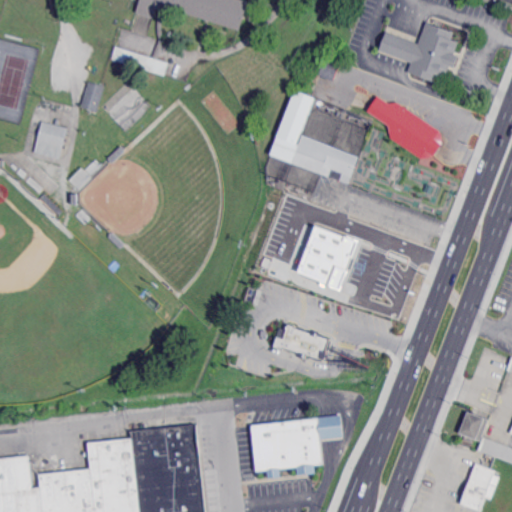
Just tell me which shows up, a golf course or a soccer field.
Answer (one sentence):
There is a golf course in the scene.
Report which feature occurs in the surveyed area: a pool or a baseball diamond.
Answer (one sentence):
The image shows a baseball diamond.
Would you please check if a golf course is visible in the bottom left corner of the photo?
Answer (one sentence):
No, I can find no golf course in the bottom left corner of the photo.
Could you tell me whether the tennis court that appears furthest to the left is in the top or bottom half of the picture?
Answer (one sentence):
The tennis court that appears furthest to the left sits in the top half of the picture.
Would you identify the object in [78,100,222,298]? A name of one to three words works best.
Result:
baseball field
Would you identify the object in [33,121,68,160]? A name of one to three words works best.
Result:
shed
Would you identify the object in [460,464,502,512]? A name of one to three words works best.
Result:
building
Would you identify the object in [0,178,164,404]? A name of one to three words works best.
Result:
baseball field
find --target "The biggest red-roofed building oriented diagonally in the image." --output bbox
[366,96,442,159]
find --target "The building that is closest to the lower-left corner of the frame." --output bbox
[0,438,140,512]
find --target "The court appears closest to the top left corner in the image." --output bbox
[0,38,38,124]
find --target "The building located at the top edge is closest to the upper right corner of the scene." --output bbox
[380,21,460,80]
